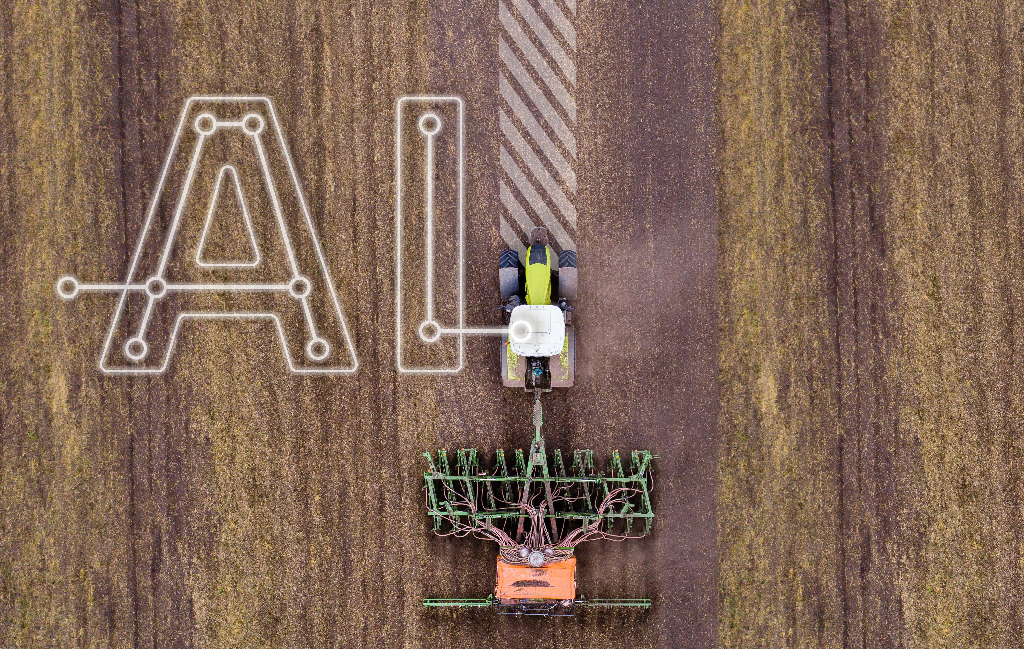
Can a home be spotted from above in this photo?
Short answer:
No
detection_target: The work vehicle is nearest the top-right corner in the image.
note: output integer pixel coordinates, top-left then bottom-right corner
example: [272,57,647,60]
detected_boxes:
[498,228,578,391]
